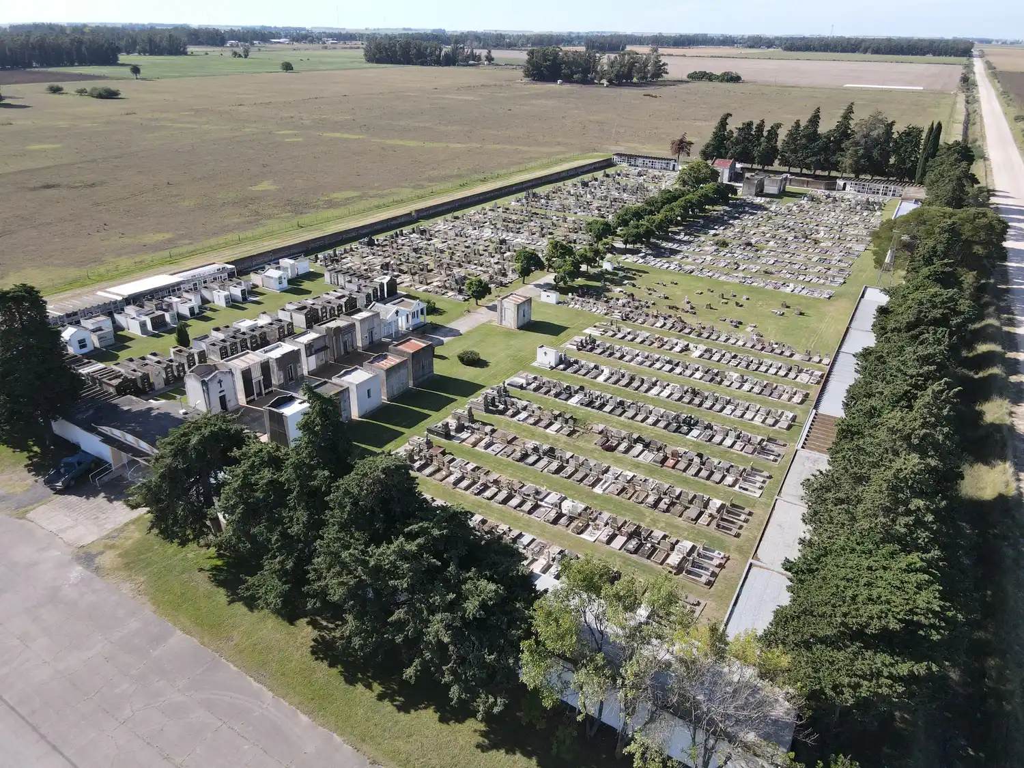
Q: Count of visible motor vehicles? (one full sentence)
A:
I count just 1 motor vehicle.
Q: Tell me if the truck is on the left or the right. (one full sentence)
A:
It is on the left.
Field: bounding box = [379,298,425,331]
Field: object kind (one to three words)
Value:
building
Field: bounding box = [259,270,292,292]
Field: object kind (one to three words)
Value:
building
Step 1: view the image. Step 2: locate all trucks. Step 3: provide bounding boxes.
[42,452,100,492]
